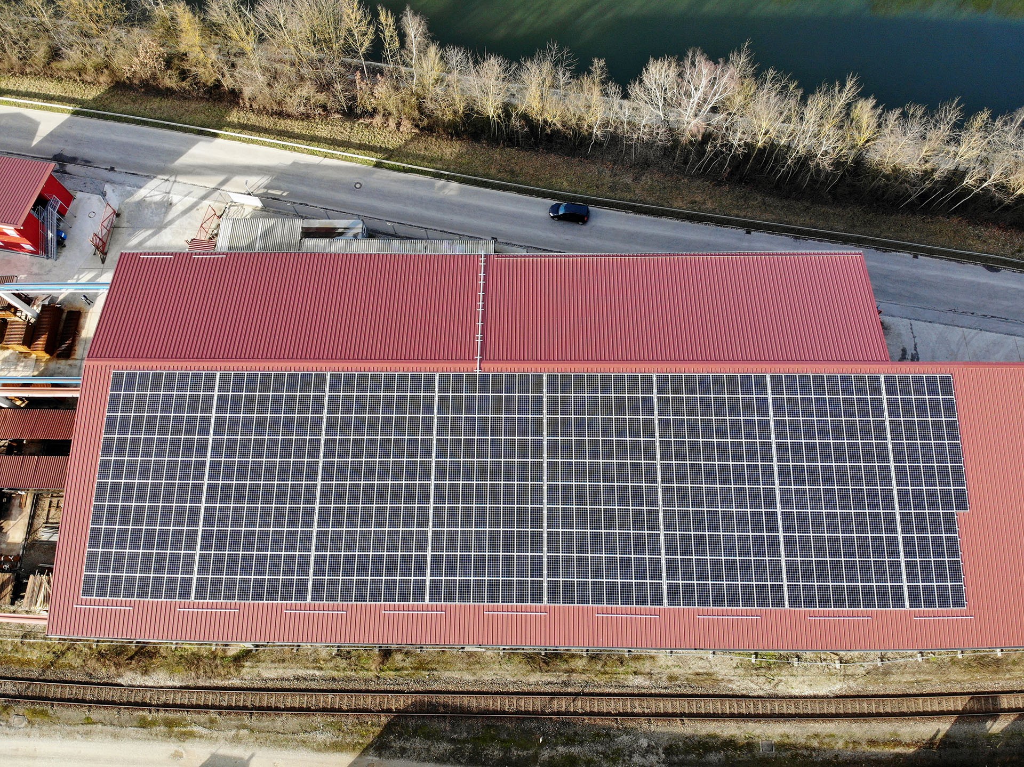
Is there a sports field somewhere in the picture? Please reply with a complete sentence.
No, the frame has no sports field in it.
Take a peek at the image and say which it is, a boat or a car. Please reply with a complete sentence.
The image shows a car.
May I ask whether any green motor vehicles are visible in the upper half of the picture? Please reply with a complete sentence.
No, I can find no green motor vehicle in the upper half of the picture.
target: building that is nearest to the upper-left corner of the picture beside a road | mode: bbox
[0,152,84,267]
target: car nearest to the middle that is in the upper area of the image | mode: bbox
[551,199,592,223]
